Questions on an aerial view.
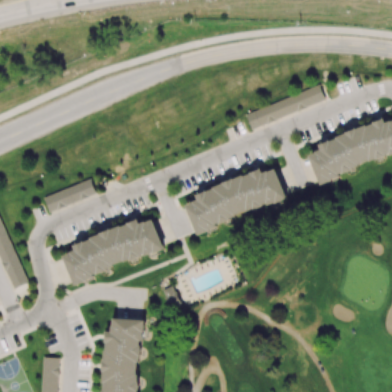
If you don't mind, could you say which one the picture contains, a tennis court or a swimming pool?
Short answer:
swimming pool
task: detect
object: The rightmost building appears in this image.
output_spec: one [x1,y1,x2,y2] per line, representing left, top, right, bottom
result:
[311,118,392,184]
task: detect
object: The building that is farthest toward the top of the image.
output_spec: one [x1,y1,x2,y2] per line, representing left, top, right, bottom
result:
[246,82,326,132]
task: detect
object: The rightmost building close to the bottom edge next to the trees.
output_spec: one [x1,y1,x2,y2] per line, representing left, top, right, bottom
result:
[99,318,142,392]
